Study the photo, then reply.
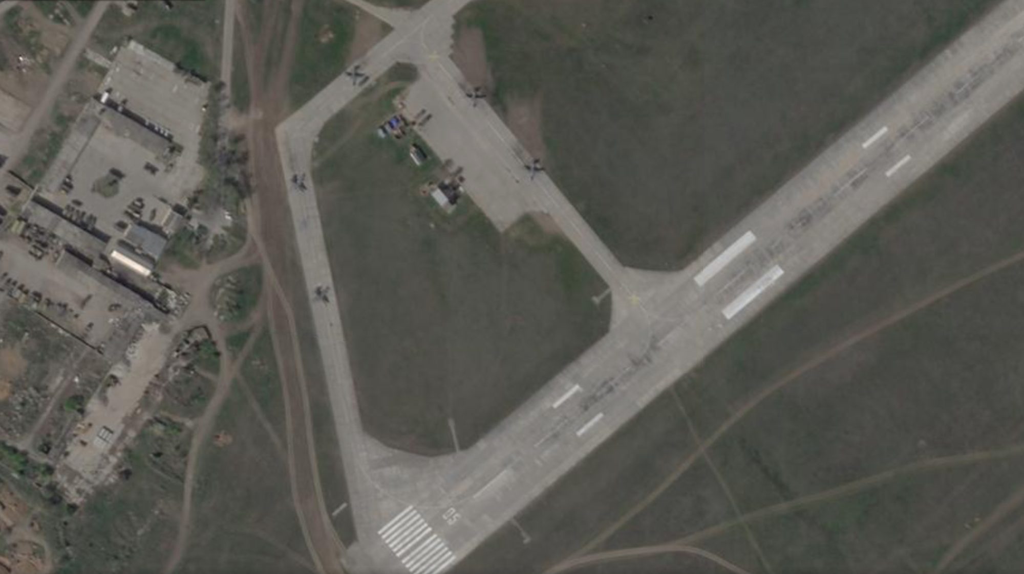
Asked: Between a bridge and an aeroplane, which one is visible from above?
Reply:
aeroplane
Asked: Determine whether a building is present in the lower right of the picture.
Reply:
No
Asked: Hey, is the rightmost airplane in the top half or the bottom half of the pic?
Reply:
top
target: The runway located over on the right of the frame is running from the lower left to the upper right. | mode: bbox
[341,0,1024,574]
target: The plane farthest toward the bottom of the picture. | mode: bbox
[313,285,332,303]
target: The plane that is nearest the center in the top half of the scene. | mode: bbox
[524,159,545,180]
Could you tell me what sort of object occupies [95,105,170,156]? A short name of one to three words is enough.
building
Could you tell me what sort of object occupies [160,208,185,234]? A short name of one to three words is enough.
house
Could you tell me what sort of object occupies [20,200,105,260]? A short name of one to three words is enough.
building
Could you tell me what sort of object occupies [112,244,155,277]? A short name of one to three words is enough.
shed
